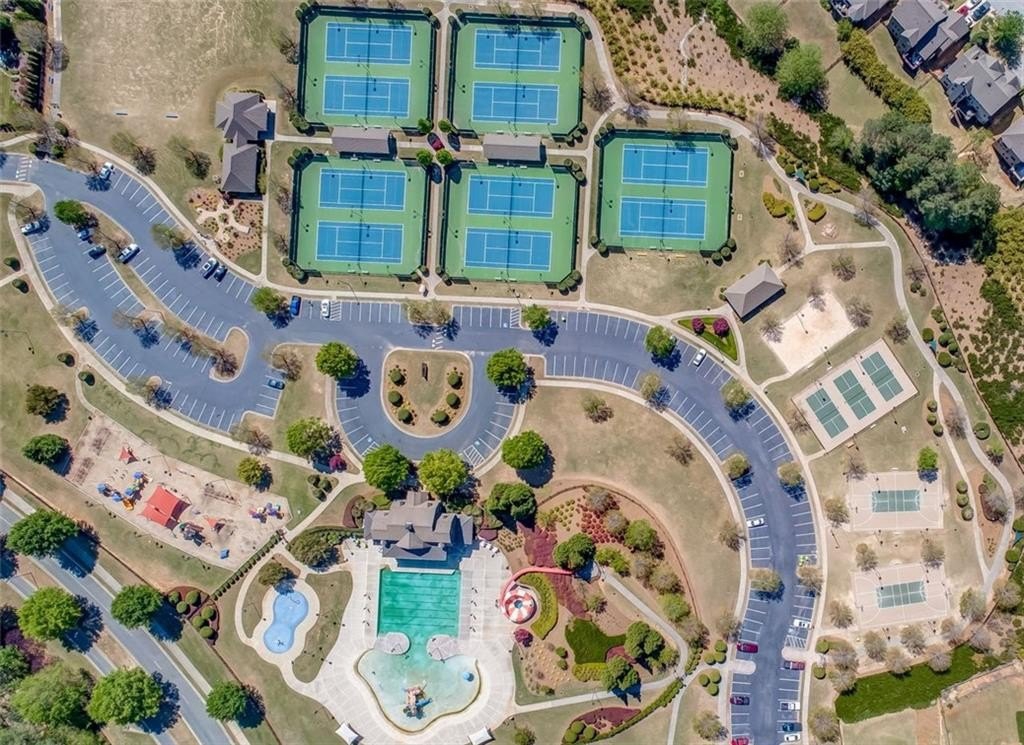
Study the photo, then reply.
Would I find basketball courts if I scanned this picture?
Yes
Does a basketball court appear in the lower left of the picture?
No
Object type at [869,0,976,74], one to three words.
house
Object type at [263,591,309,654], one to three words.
swimming pool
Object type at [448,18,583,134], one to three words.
tennis court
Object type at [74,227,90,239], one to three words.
vehicle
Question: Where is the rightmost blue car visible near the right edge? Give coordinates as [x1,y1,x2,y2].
[974,2,990,19]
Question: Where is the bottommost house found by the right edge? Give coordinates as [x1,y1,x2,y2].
[977,112,1024,189]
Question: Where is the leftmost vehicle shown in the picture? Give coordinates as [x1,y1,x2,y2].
[20,221,39,234]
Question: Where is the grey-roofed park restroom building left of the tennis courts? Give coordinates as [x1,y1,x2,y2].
[216,94,270,193]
